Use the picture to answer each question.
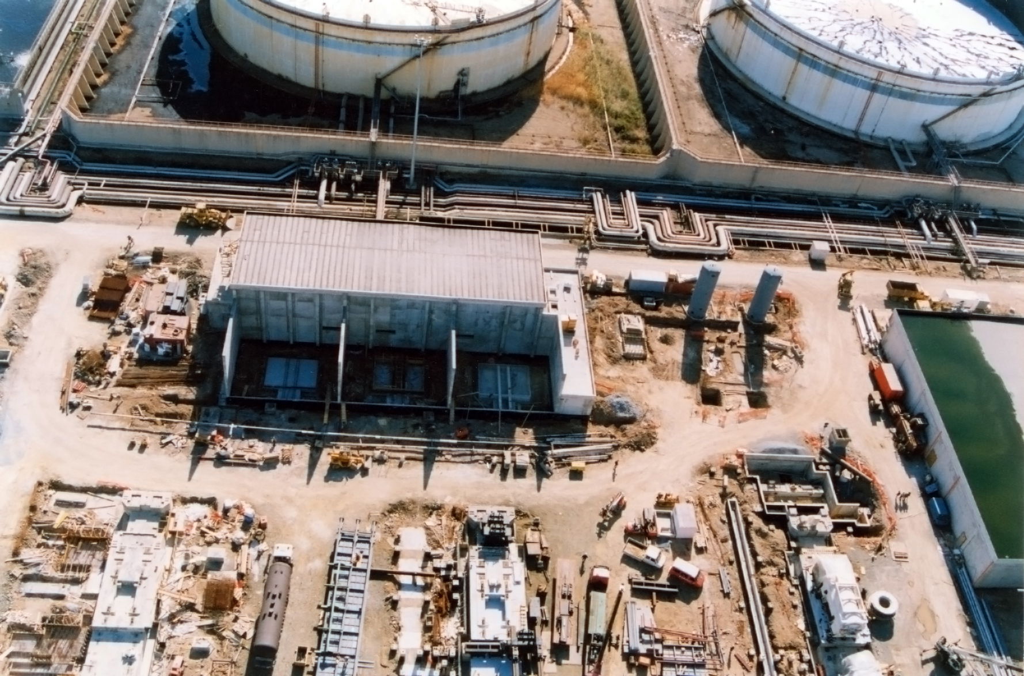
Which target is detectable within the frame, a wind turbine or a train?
wind turbine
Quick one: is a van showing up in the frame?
Yes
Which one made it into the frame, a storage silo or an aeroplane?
storage silo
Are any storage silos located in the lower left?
No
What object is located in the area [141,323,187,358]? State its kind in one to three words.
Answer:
shed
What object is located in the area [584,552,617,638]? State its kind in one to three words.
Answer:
truck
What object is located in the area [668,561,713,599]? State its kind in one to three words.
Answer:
van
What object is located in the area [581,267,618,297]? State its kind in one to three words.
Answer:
work vehicle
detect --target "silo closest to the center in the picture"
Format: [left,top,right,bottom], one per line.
[687,258,726,326]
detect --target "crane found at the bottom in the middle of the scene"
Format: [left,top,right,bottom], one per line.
[578,576,626,676]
